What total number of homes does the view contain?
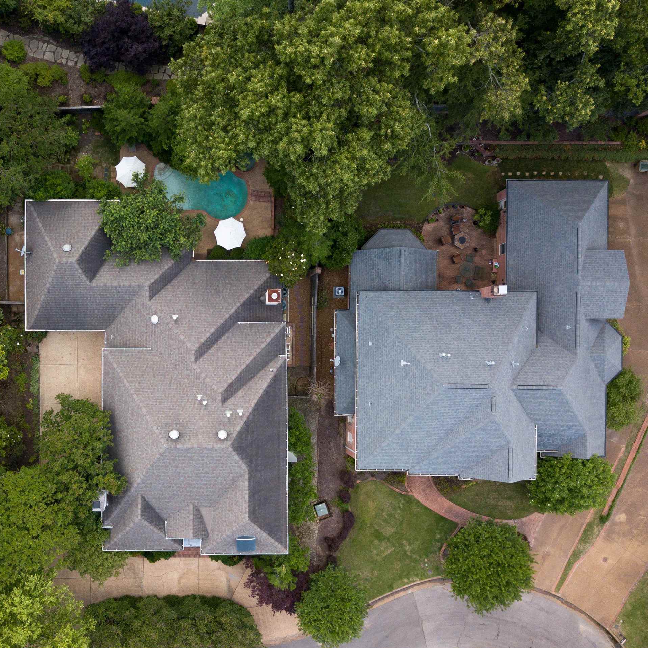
2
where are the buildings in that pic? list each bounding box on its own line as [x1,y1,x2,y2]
[24,199,297,556]
[332,179,630,483]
